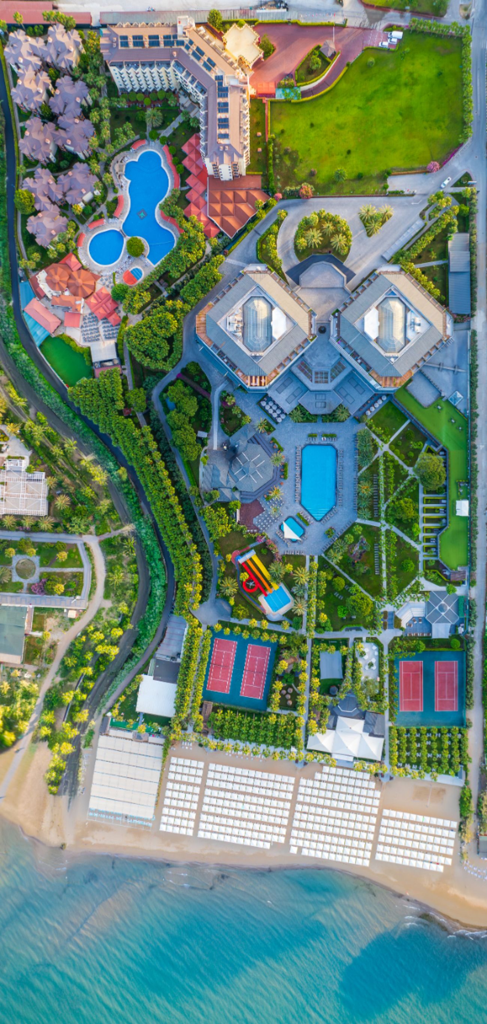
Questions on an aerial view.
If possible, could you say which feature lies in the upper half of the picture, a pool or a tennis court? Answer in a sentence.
There is a pool in the upper half of the picture.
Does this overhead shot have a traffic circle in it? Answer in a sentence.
Yes, the photo shows a traffic circle.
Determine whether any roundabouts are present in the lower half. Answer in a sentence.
No, there's no roundabout to be seen in the lower half.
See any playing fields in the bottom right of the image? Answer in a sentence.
No, the scene shows no playing field in the bottom right of the image.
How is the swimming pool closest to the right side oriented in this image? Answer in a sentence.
From this overhead view, the swimming pool closest to the right side appears to run vertically.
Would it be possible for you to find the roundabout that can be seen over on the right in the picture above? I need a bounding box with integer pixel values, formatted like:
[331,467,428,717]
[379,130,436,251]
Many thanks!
[294,212,353,264]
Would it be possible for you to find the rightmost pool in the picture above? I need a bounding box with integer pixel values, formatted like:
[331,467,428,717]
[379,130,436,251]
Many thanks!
[300,444,338,522]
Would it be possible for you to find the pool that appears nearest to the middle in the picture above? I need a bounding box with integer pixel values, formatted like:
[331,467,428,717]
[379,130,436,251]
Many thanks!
[279,515,305,543]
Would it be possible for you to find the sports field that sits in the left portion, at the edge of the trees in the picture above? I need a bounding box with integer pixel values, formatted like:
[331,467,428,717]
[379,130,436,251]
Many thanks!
[41,336,92,387]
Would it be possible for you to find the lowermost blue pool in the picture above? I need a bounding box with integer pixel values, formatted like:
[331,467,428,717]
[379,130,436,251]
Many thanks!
[263,586,292,613]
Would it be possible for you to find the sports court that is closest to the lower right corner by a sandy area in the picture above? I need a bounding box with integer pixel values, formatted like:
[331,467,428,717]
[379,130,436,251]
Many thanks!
[412,786,446,809]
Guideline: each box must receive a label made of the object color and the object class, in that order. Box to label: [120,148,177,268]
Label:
blue swimming pool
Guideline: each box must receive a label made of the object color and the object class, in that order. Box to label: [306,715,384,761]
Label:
white tent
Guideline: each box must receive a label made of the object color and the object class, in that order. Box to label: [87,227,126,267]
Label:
blue swimming pool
